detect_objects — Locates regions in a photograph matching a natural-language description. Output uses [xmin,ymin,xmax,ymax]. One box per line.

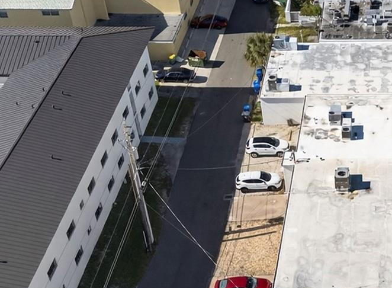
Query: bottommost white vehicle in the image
[231,167,277,194]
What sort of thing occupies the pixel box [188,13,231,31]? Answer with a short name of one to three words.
car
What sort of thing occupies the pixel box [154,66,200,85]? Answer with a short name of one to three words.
car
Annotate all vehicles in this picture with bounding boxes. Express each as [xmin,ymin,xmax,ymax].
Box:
[212,273,275,288]
[154,66,200,85]
[231,167,277,194]
[188,13,231,31]
[242,134,294,158]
